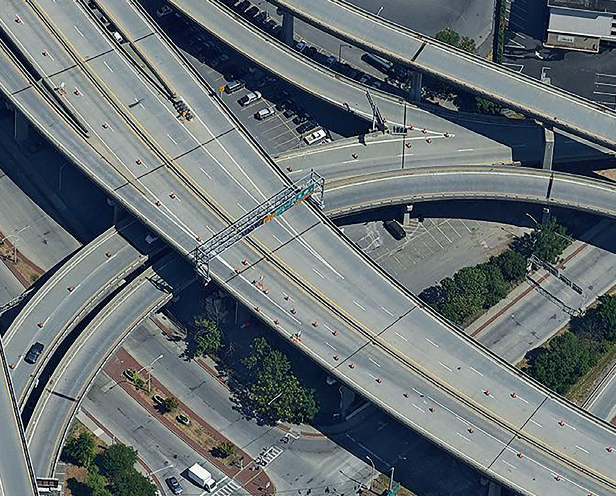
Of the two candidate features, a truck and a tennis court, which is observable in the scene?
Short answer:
truck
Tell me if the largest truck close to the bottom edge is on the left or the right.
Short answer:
left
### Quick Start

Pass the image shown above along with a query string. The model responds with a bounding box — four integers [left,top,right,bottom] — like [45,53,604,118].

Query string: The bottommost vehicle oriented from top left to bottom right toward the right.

[386,218,404,239]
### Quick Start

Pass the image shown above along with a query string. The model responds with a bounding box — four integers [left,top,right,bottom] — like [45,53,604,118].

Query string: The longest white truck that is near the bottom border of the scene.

[186,458,219,493]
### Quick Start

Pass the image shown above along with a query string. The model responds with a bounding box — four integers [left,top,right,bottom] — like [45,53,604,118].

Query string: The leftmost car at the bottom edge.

[166,477,181,495]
